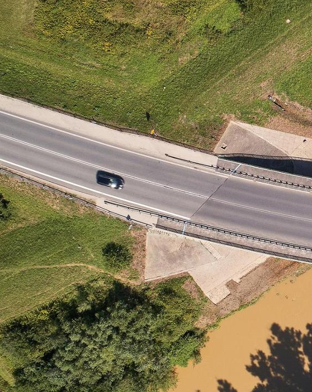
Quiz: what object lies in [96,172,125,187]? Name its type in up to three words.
car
